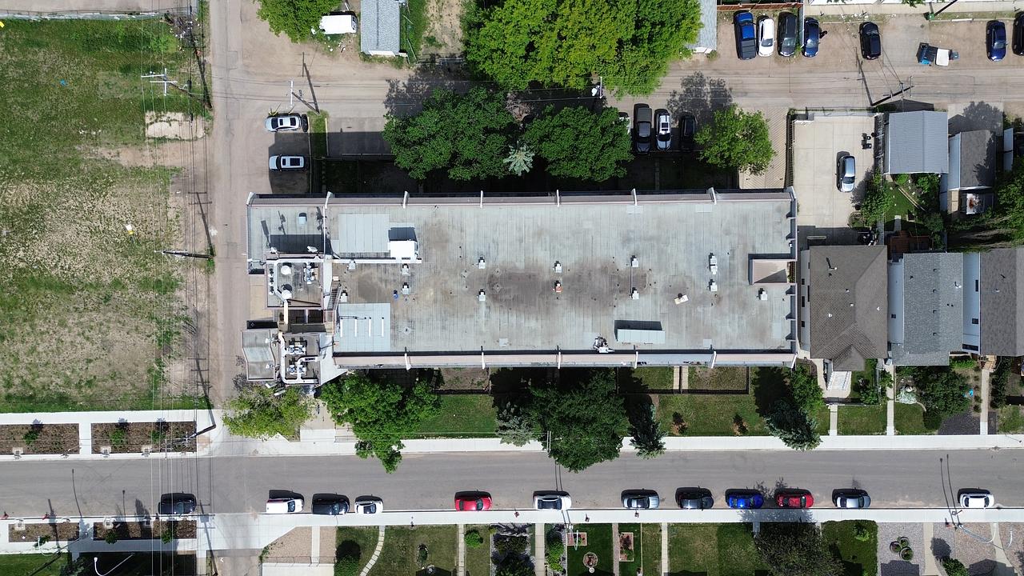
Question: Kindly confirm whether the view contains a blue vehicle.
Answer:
Yes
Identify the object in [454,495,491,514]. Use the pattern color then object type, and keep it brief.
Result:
red car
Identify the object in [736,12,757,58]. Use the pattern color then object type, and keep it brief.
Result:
blue truck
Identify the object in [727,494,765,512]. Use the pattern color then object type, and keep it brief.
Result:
blue car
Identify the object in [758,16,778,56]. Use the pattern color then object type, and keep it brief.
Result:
white car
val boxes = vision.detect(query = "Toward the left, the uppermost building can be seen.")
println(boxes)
[359,0,402,59]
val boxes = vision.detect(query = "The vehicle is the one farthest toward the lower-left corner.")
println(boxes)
[156,496,194,515]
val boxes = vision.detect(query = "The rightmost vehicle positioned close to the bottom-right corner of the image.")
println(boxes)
[960,494,996,512]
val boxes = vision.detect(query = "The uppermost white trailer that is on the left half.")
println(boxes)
[320,14,359,39]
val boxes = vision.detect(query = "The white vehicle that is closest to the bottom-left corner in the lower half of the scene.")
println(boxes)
[265,496,302,514]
